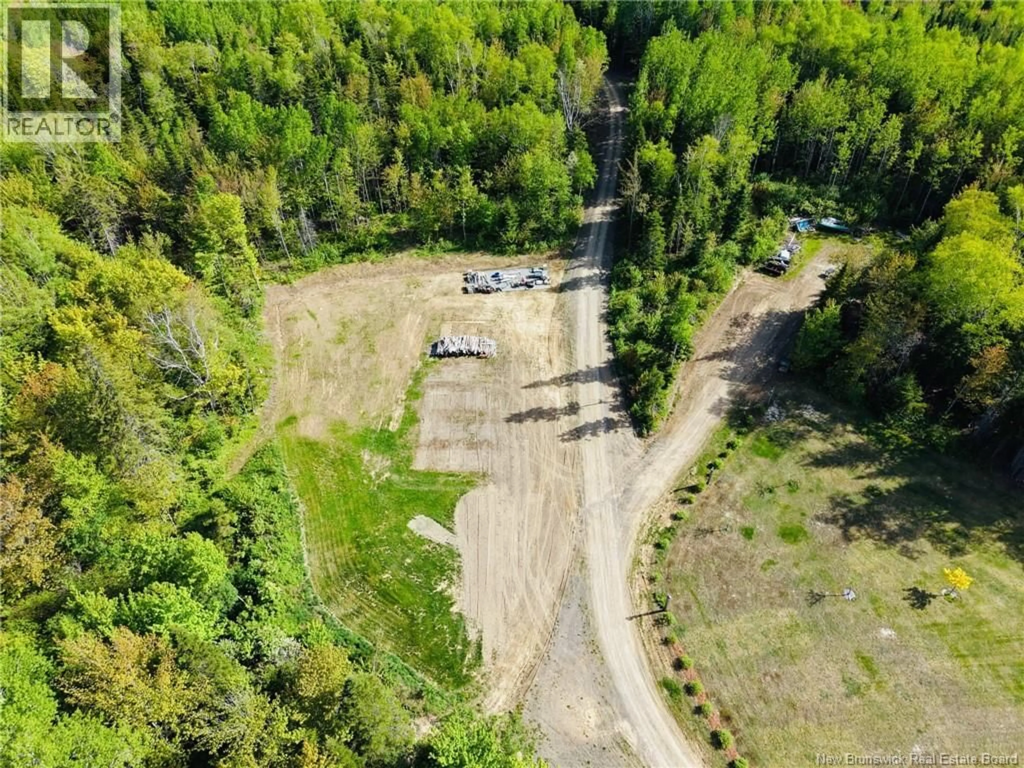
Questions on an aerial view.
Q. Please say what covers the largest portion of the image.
trees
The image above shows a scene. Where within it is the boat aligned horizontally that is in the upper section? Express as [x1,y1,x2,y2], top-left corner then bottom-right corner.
[819,220,851,235]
